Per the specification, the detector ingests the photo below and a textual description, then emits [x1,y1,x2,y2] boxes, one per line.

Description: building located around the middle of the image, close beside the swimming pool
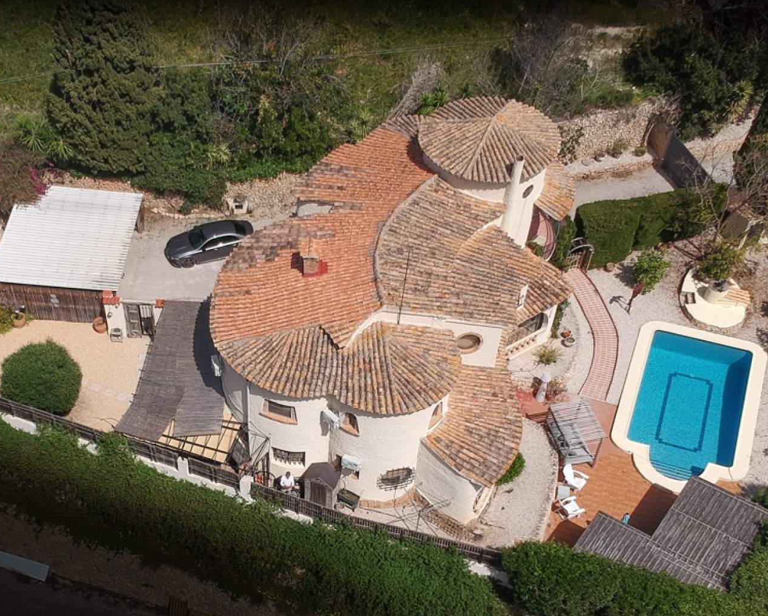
[207,100,577,525]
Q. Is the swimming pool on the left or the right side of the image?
right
